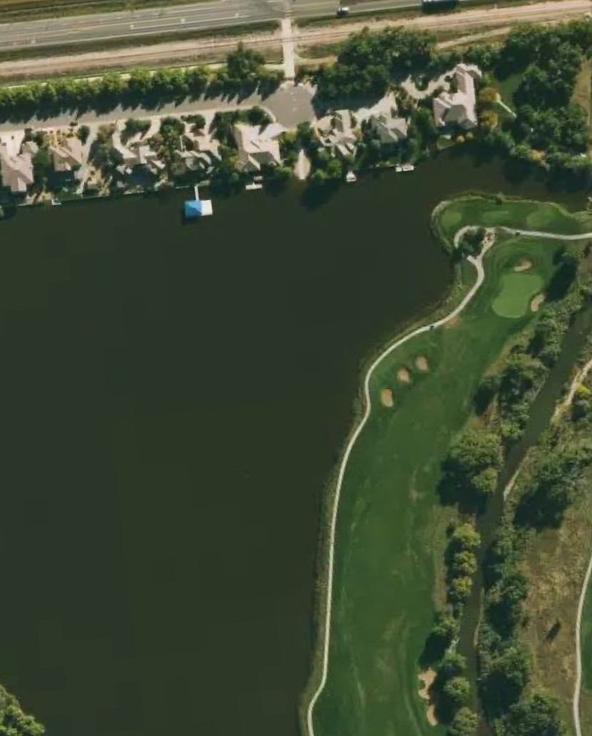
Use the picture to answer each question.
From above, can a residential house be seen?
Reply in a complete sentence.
Yes, there's a residential house down there.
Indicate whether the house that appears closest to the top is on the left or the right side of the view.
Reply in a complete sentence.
You can find the house that appears closest to the top on the right side of the picture.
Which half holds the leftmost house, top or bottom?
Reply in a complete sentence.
The leftmost house sits in the top half of the picture.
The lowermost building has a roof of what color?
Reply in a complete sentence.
The roof over the lowermost building appears blue.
